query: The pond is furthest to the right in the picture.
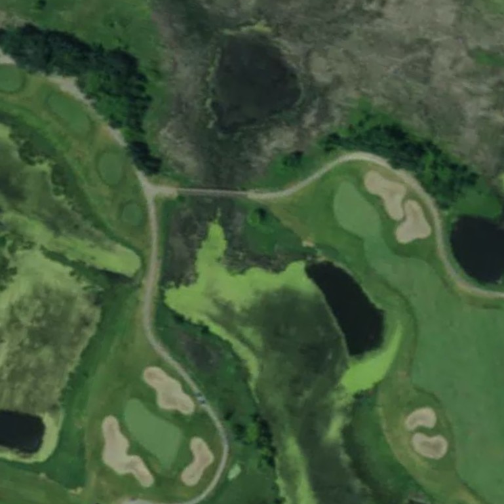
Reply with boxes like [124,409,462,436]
[452,173,504,283]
